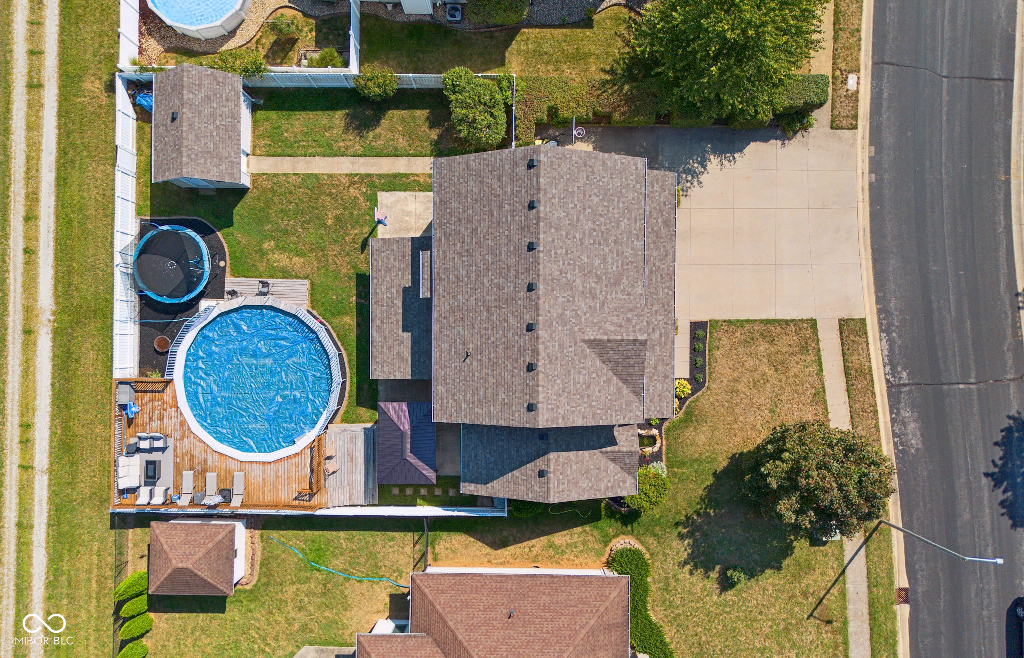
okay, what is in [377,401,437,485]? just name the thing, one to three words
gazebo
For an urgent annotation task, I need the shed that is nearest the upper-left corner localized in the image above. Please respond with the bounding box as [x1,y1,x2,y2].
[151,64,268,198]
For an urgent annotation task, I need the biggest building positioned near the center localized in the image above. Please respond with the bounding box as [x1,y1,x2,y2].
[369,145,679,503]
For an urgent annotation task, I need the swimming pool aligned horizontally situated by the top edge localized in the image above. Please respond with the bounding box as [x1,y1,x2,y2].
[147,0,260,38]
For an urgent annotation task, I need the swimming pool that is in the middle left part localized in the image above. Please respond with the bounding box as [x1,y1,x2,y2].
[173,292,344,461]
